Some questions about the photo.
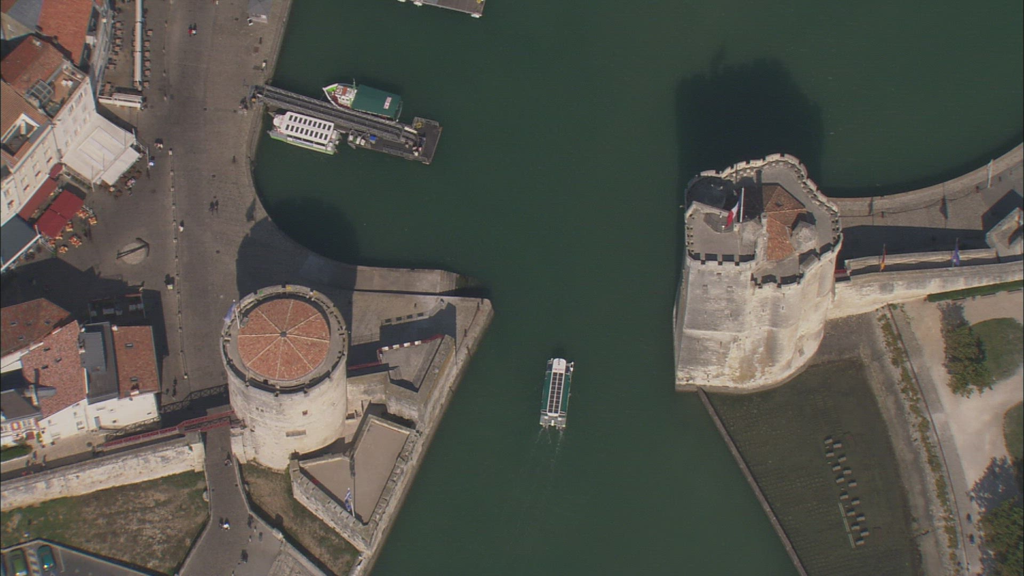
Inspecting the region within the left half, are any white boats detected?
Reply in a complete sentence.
Yes, you'll find a white boat within the left half.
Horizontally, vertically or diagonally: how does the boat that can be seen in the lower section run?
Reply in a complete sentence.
I'd say the boat that can be seen in the lower section is aligned vertically in the picture.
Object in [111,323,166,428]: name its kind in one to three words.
house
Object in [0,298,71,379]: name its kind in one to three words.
house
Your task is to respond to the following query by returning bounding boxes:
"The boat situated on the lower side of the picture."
[539,356,572,430]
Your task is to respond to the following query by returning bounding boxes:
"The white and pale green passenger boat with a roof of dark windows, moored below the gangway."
[267,115,342,159]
